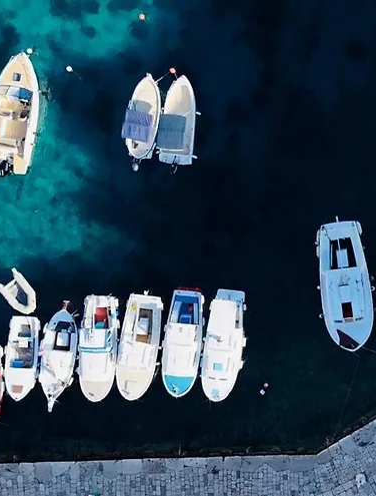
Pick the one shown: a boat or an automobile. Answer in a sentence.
This aerial view contains a boat.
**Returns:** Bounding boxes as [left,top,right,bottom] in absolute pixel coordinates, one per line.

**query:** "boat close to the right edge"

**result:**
[314,215,376,352]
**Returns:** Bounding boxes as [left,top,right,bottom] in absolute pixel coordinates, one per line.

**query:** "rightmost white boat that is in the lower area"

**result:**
[197,288,250,403]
